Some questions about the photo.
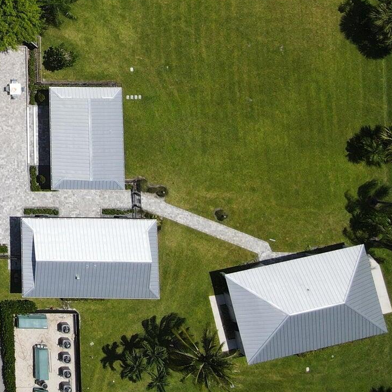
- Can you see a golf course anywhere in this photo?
No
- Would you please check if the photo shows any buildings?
Yes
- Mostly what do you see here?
grass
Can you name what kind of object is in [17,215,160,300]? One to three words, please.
building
